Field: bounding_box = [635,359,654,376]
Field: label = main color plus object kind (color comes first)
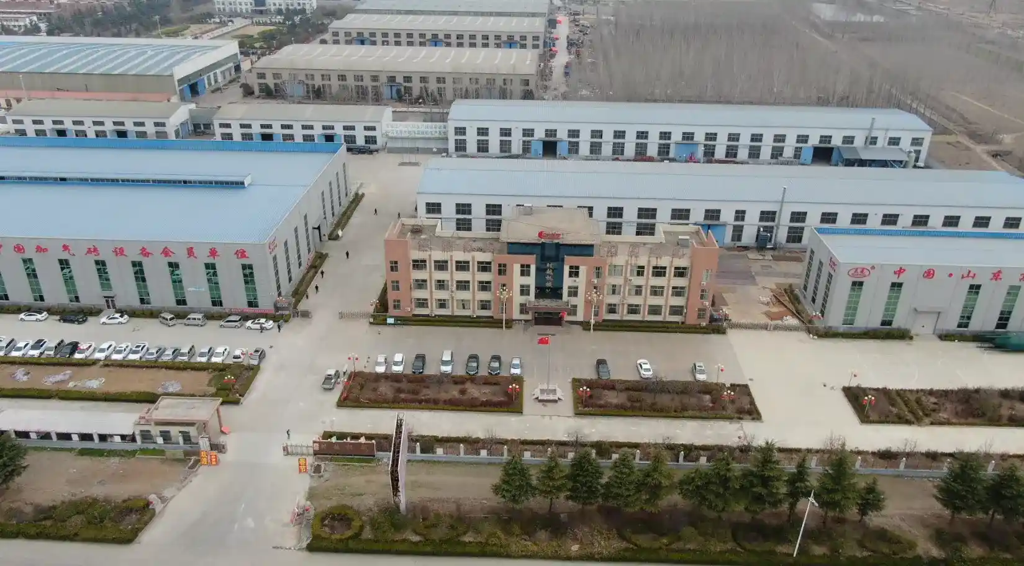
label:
white car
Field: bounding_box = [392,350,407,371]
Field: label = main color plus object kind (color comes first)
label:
white car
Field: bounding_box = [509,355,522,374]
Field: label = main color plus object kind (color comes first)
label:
white vehicle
